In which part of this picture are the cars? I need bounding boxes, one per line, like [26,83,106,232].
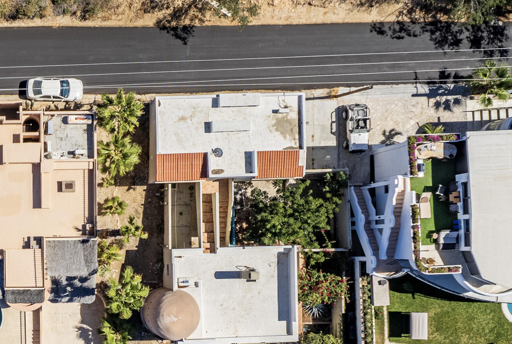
[28,76,82,102]
[342,103,372,154]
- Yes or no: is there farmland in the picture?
No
